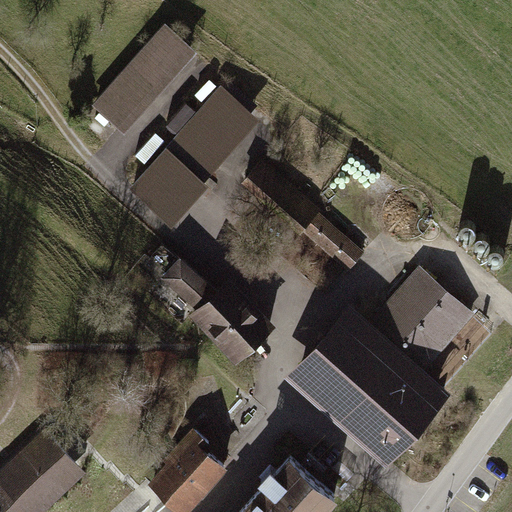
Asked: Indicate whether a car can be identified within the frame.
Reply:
Yes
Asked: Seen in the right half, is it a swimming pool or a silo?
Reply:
silo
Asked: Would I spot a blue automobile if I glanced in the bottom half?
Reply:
Yes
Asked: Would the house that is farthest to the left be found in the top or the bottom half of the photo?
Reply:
bottom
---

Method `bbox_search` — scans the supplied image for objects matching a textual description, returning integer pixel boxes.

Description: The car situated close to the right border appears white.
[468,482,491,502]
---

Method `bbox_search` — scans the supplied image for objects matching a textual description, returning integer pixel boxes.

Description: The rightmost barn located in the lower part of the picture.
[386,266,473,352]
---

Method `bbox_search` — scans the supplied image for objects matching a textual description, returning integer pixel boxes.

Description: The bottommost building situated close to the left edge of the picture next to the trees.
[0,432,86,512]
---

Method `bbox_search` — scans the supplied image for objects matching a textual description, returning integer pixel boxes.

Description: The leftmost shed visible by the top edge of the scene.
[92,24,197,134]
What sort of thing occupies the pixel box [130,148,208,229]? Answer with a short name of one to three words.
barn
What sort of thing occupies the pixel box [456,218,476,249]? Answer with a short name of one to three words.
silo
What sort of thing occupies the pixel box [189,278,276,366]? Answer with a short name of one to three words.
house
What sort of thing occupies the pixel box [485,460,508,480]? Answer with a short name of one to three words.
car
